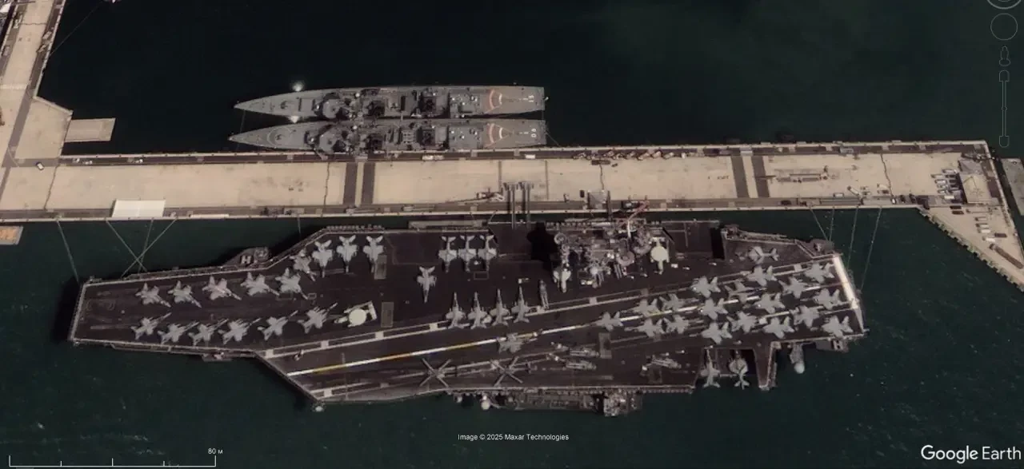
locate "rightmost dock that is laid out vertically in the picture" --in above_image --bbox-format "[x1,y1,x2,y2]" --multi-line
[1002,158,1024,218]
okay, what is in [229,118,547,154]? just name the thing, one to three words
ship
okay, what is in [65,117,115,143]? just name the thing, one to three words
pier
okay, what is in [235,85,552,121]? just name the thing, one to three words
ship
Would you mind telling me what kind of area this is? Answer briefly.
port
